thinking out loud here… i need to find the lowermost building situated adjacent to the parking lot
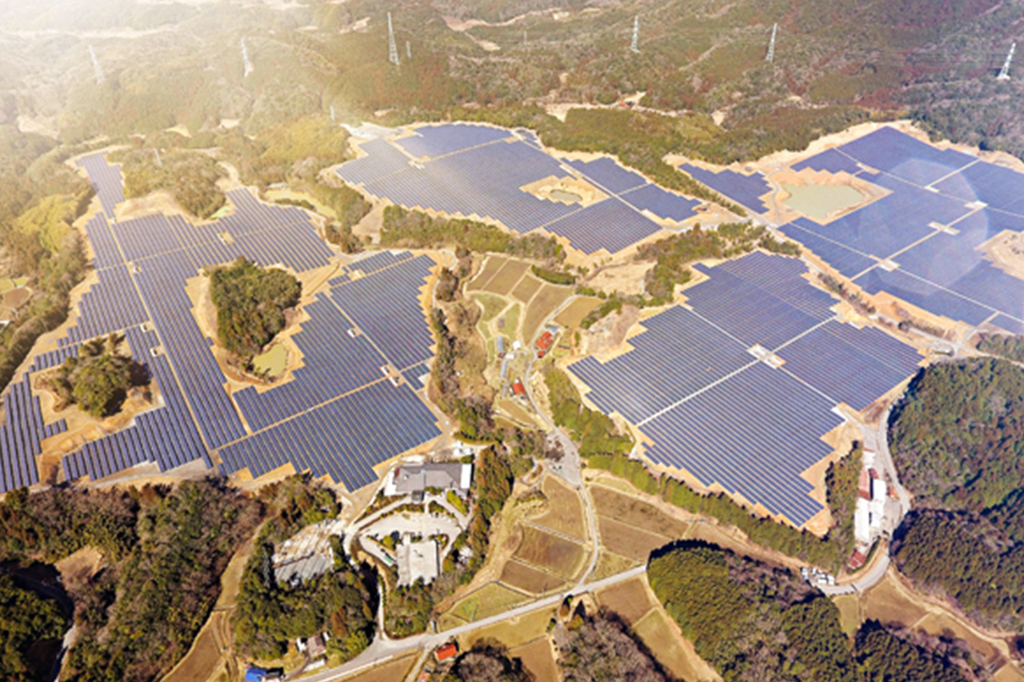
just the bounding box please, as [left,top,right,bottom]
[397,534,442,592]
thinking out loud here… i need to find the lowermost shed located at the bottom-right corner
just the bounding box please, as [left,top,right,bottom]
[846,550,872,575]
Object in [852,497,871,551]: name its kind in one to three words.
building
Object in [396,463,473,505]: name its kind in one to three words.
building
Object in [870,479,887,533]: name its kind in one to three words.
shed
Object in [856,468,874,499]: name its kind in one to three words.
shed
